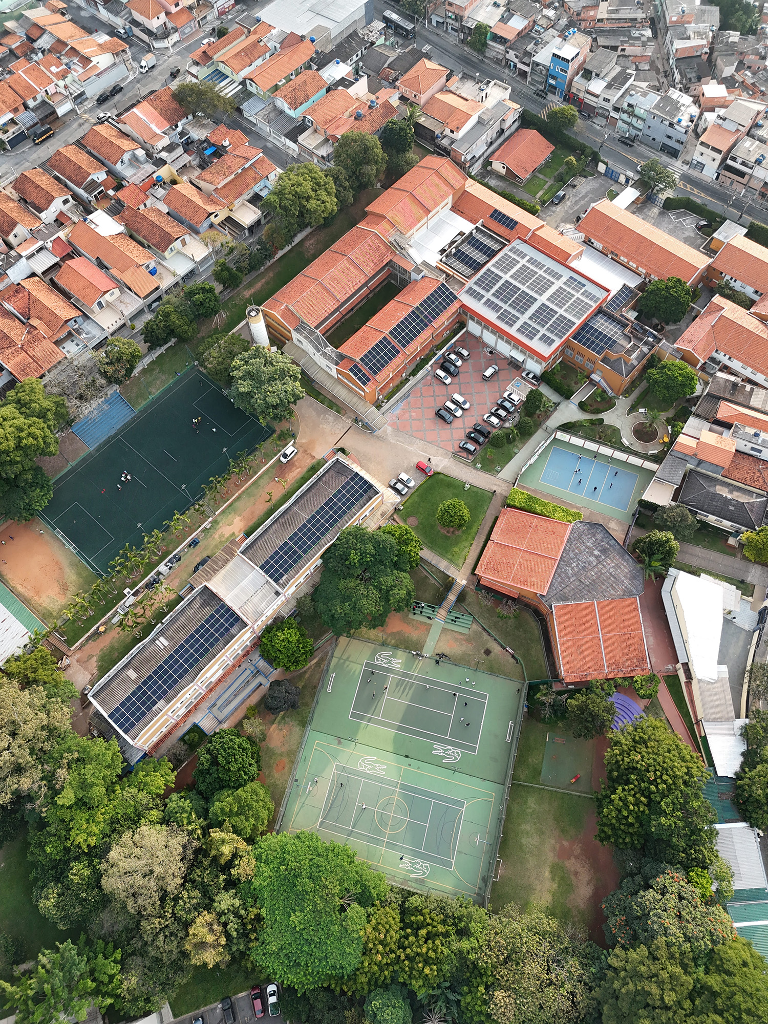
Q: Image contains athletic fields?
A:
Yes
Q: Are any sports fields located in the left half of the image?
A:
Yes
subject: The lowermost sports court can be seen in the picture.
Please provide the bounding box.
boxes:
[276,722,508,895]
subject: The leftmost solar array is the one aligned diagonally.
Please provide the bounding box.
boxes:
[108,604,240,734]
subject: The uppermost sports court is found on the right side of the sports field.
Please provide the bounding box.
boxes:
[519,438,656,524]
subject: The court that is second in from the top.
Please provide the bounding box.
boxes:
[294,636,527,786]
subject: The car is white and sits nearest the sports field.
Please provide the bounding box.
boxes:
[280,448,298,463]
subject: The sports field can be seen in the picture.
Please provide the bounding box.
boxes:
[36,364,275,580]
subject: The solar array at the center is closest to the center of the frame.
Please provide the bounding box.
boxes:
[259,472,372,583]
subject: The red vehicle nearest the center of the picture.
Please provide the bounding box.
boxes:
[415,462,434,477]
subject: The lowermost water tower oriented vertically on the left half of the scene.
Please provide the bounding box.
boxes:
[244,306,272,354]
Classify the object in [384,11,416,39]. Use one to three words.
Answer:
bus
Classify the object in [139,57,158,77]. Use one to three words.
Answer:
vehicle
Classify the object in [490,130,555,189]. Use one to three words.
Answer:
house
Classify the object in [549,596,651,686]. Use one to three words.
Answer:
building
